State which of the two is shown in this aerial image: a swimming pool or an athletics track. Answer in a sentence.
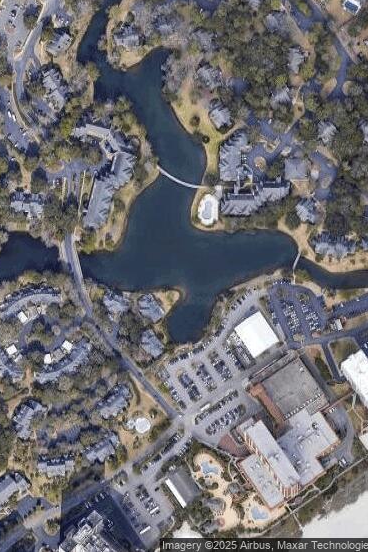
Visible in the photo is a swimming pool.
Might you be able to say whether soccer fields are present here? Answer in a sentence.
No, the frame has no soccer field in it.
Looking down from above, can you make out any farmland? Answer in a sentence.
No, farmland can't be seen anywhere here.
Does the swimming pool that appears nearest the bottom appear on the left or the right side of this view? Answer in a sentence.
It is on the right.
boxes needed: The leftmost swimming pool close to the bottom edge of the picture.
[193,452,286,531]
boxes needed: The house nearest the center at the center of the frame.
[137,292,167,324]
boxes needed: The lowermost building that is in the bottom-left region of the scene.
[55,511,126,552]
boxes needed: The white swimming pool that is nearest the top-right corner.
[198,192,220,225]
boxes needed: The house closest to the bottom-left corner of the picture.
[0,467,33,510]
